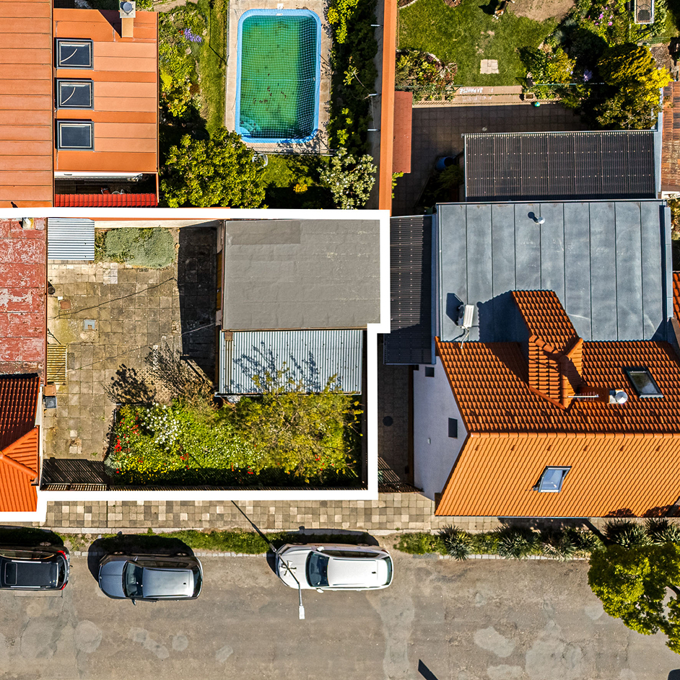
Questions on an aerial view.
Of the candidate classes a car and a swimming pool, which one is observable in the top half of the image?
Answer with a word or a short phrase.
swimming pool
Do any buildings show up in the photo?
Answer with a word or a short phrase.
Yes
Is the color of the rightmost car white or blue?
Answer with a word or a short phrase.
white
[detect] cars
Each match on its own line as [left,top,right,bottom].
[279,541,391,597]
[101,550,203,606]
[0,542,69,591]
